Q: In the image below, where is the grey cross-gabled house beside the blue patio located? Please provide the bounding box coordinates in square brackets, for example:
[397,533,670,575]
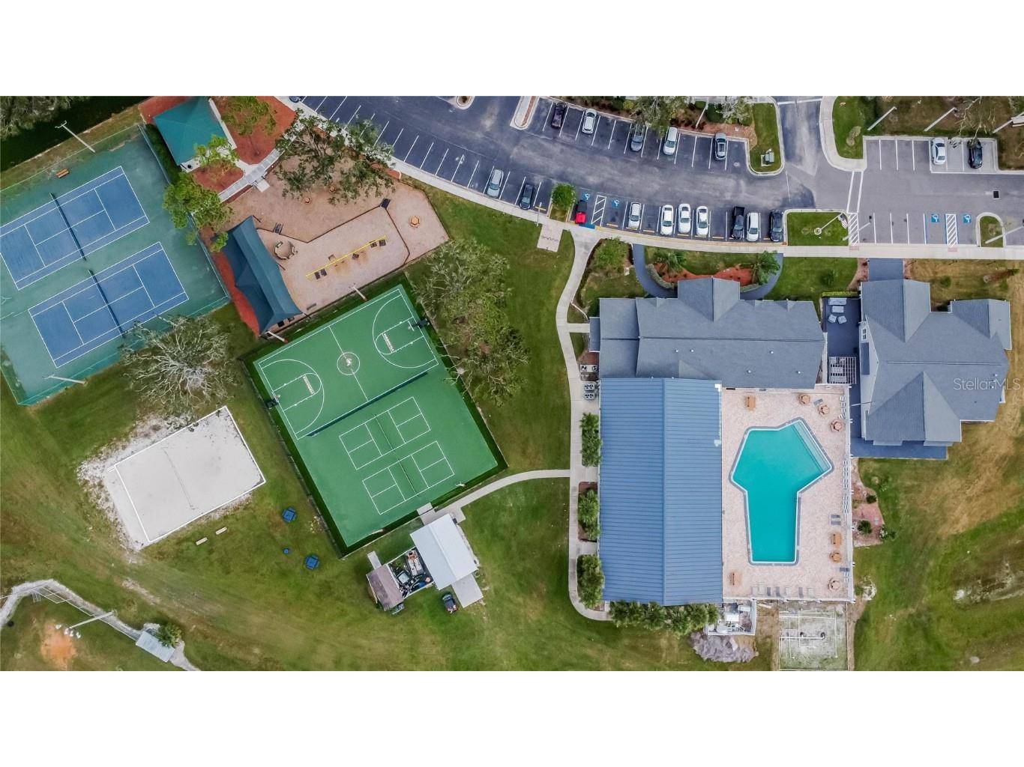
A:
[853,279,1011,446]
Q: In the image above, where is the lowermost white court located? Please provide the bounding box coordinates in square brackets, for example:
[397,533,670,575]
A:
[107,405,266,543]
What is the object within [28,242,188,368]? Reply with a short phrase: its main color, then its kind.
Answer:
blue tennis court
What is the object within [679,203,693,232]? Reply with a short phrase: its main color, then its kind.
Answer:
white car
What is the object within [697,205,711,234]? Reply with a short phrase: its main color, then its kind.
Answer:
white car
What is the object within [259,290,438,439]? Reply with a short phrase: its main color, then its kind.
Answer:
green basketball court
